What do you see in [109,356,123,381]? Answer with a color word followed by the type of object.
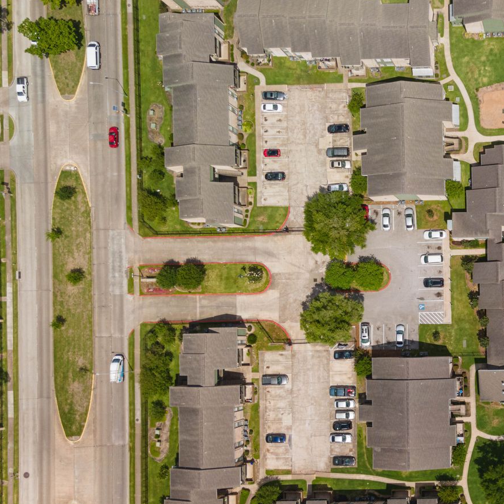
white vehicle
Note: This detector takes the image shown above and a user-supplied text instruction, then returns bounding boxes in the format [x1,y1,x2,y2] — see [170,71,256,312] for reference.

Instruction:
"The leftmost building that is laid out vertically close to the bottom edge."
[164,328,255,504]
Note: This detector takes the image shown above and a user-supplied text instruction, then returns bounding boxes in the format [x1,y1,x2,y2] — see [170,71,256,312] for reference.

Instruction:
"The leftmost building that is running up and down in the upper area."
[157,10,247,224]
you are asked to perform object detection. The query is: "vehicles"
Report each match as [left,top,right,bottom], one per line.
[260,101,283,112]
[263,170,286,181]
[261,147,282,157]
[423,278,444,288]
[329,386,356,397]
[335,411,355,420]
[423,229,446,240]
[326,182,348,191]
[86,0,98,14]
[326,146,348,157]
[333,421,352,431]
[107,126,118,147]
[109,356,123,381]
[261,375,288,386]
[330,433,352,444]
[360,323,371,346]
[329,158,351,169]
[420,254,444,263]
[332,350,355,360]
[14,75,28,102]
[262,89,285,100]
[327,123,349,132]
[404,207,414,230]
[86,43,99,67]
[333,399,356,408]
[265,433,286,443]
[380,207,391,230]
[332,457,355,467]
[394,325,405,347]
